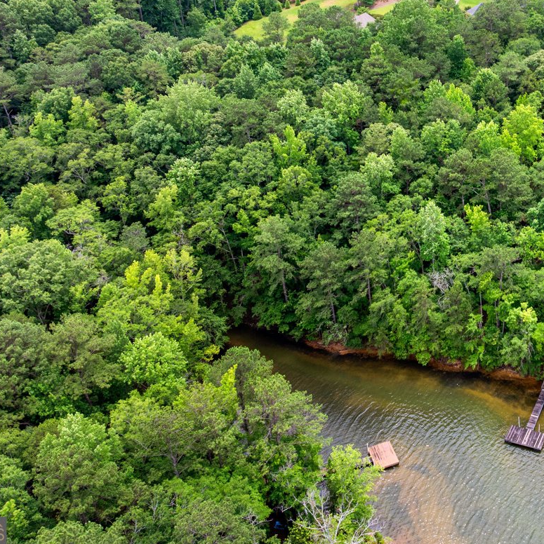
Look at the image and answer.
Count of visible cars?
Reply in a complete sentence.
Not a single car can be seen.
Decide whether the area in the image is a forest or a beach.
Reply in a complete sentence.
The picture captures a forest.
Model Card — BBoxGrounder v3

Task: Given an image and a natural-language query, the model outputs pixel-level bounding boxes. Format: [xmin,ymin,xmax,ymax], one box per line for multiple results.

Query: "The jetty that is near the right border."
[507,397,544,452]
